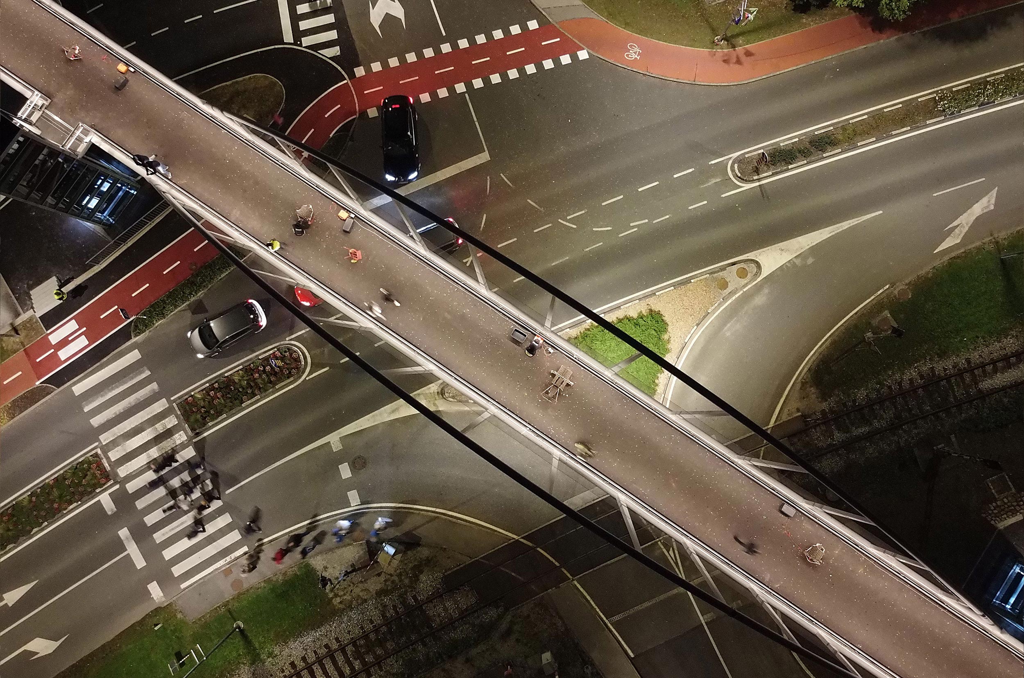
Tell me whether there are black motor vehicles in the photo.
Yes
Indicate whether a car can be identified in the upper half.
Yes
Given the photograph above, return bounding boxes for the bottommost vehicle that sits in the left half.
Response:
[185,295,269,359]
